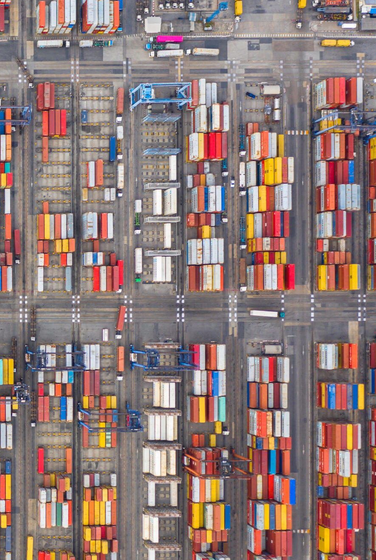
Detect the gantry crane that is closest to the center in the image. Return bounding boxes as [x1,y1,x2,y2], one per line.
[128,346,193,373]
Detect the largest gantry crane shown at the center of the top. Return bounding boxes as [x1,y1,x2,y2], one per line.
[127,81,192,114]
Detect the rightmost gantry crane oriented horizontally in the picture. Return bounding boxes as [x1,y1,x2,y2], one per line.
[308,108,376,139]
